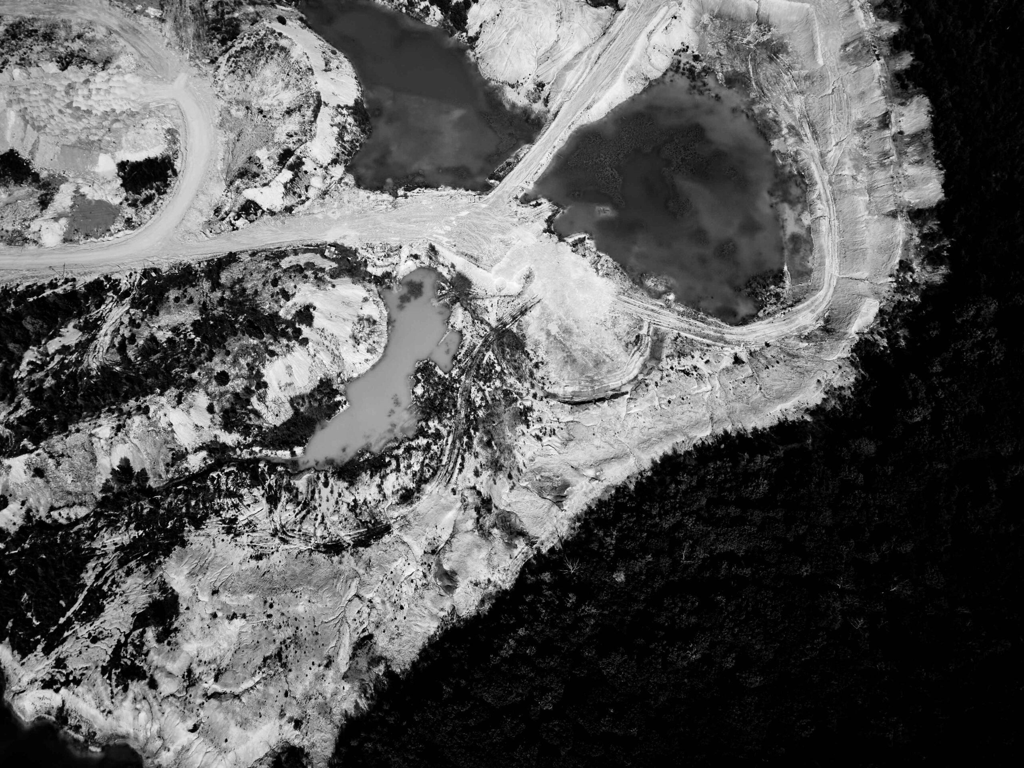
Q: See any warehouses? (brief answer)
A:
No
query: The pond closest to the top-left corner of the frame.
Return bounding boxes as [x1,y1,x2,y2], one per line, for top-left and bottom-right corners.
[64,191,122,241]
